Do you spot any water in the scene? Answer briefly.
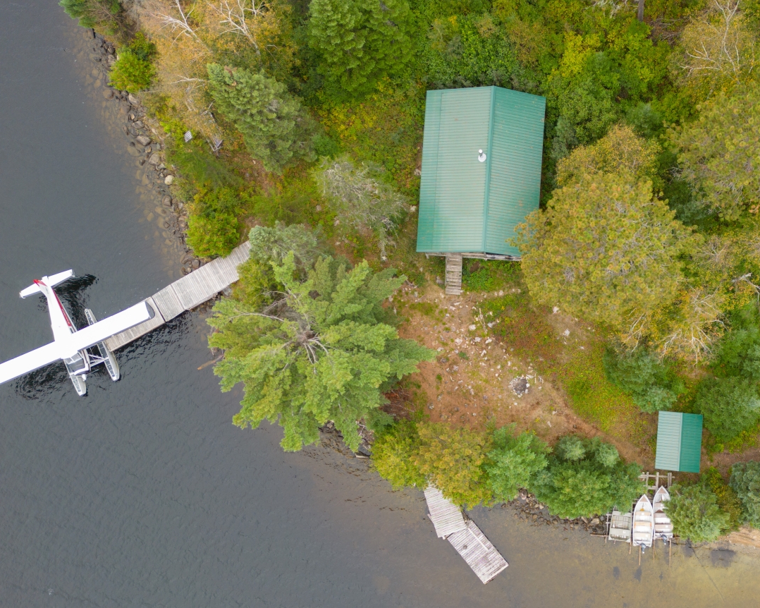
Yes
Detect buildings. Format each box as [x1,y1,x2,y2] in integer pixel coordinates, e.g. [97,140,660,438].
[416,85,545,294]
[653,411,703,474]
